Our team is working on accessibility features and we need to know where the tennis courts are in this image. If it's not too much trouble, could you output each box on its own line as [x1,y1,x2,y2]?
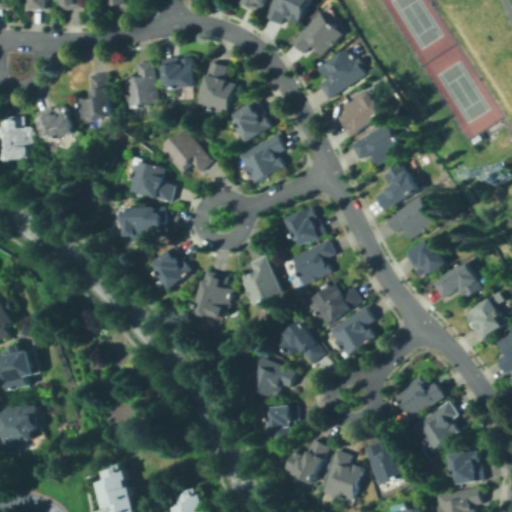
[382,0,460,70]
[426,48,504,137]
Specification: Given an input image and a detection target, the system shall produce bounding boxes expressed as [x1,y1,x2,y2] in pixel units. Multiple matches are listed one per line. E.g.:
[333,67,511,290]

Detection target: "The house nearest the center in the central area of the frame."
[242,254,284,306]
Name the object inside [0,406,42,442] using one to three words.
house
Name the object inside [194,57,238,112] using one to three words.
house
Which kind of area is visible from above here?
residential area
